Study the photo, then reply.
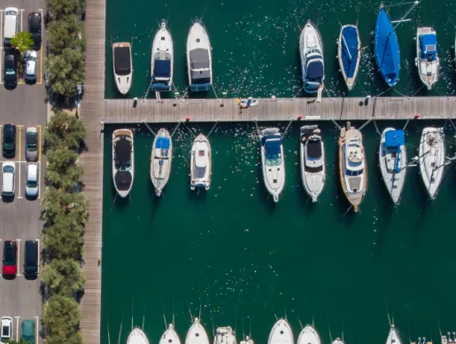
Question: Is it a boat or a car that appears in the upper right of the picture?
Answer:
boat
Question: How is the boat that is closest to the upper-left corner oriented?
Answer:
up and down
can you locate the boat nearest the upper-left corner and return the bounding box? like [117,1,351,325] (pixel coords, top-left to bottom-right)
[111,33,134,97]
